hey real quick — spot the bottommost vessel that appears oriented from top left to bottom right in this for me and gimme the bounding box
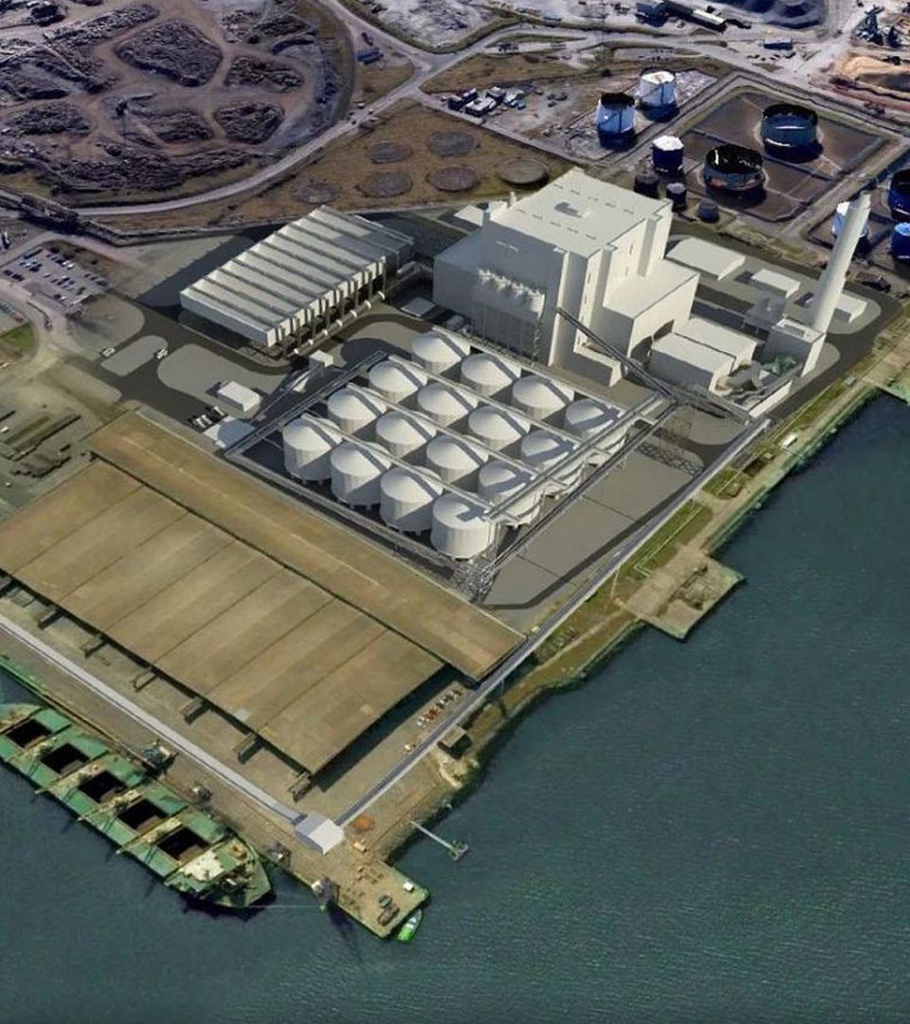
[0,700,271,915]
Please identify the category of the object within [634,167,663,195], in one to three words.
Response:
storage tank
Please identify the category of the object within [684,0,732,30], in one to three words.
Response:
building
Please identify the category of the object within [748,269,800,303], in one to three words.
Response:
building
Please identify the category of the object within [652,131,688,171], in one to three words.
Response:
storage tank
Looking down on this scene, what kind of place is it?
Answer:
port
